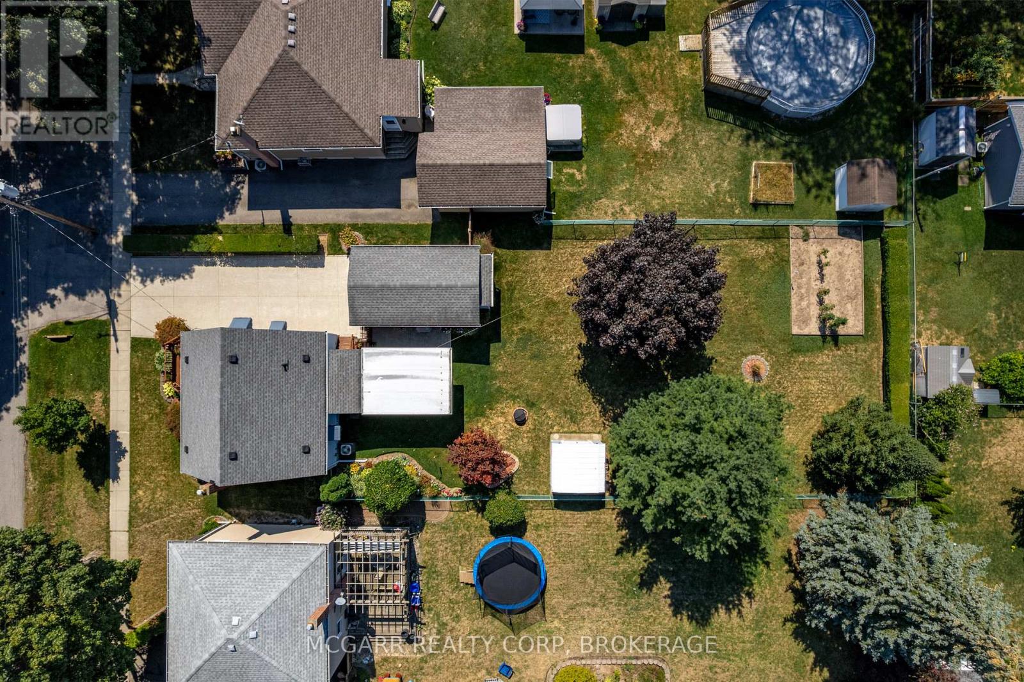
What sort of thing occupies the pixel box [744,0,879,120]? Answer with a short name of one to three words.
swimming pool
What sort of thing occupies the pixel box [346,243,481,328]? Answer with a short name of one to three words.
building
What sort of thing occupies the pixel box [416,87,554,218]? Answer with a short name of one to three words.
building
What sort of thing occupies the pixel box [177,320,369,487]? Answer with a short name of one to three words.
house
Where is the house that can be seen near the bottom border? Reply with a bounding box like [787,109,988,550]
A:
[163,517,357,682]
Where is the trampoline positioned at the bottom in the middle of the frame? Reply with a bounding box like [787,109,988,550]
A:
[474,533,547,619]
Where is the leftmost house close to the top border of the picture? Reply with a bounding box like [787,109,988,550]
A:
[191,0,423,175]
